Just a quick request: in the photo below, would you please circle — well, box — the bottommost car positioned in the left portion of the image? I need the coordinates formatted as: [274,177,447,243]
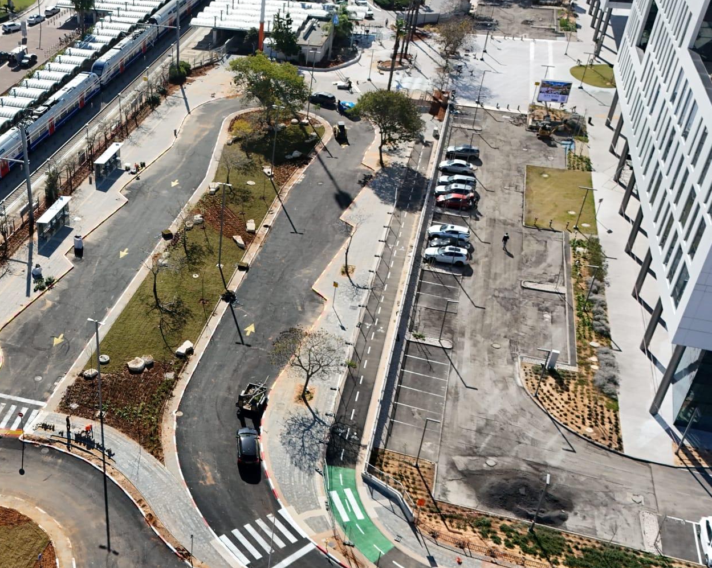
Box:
[234,430,263,473]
